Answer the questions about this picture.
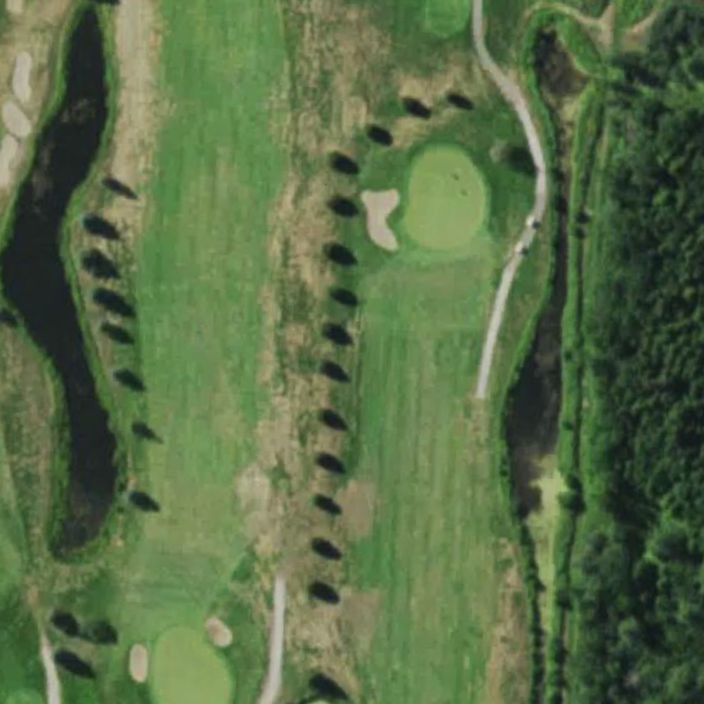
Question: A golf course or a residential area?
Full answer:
What you see here is a golf course.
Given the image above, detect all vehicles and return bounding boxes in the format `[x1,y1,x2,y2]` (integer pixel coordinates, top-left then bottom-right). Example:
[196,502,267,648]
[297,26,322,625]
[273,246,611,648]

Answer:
[515,243,522,252]
[527,217,533,225]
